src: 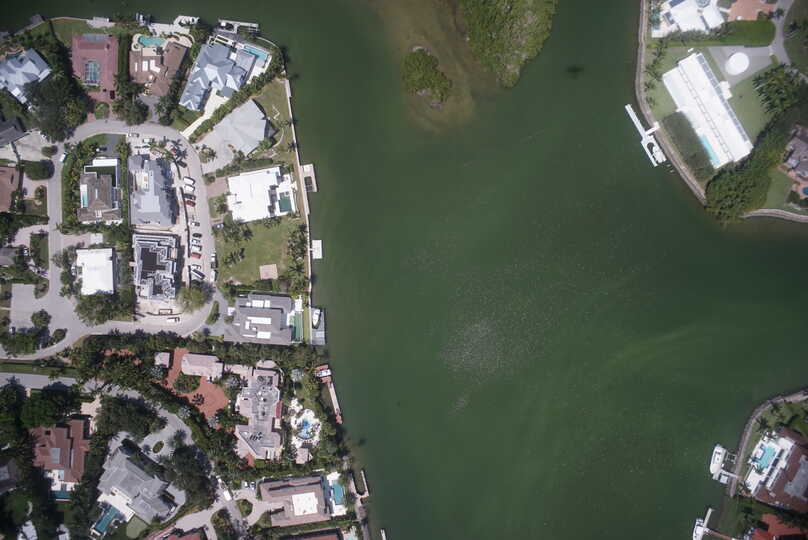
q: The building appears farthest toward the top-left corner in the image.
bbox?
[0,47,51,106]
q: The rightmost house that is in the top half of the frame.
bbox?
[779,126,808,186]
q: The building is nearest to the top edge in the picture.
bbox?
[661,0,729,44]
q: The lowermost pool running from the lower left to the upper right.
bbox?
[94,506,118,534]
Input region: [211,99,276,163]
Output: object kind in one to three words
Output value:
house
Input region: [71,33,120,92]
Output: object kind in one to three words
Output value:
house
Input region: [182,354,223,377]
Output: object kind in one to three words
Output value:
building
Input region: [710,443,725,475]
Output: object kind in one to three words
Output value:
boat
